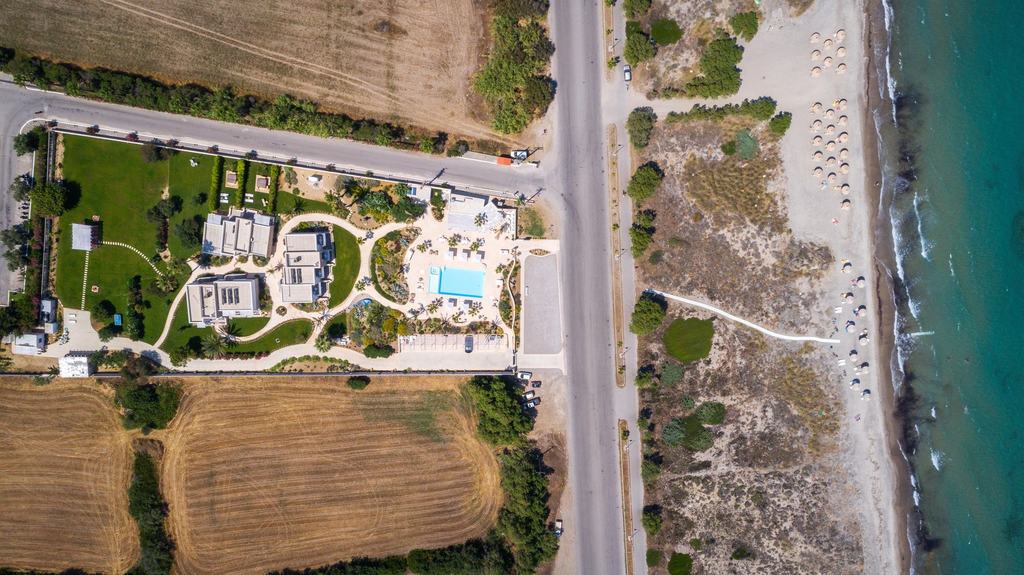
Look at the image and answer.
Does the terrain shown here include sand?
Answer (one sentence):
Yes, sand can be seen from above here.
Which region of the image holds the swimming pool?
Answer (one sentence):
You can find the swimming pool in the center area of the picture.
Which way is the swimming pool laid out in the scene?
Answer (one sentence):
From this overhead view, the swimming pool appears to run from left to right.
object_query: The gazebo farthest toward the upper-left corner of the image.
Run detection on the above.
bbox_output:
[71,222,98,250]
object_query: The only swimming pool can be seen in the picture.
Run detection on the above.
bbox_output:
[428,264,486,299]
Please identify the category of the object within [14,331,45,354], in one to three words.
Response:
house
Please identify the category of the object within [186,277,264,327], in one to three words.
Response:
house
